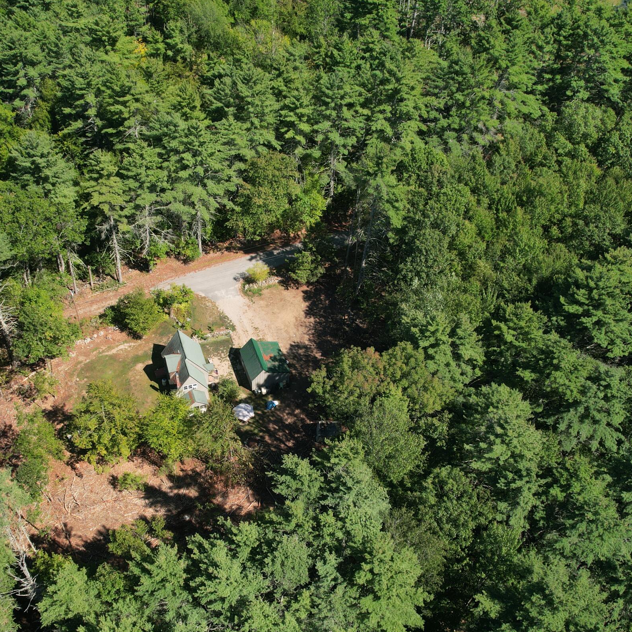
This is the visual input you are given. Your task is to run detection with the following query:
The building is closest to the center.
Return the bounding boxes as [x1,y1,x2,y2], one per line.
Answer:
[240,338,290,391]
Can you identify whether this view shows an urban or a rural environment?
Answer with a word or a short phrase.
rural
